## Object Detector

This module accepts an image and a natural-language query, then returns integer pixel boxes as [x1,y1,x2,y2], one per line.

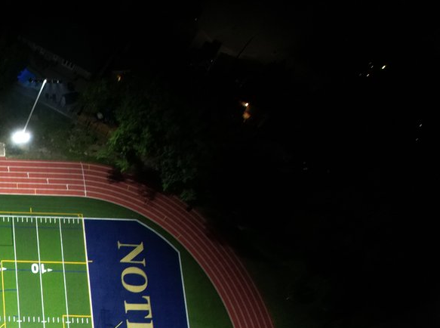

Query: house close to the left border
[18,7,104,83]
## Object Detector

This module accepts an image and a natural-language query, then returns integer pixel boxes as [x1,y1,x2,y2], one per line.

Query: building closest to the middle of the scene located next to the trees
[217,68,283,120]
